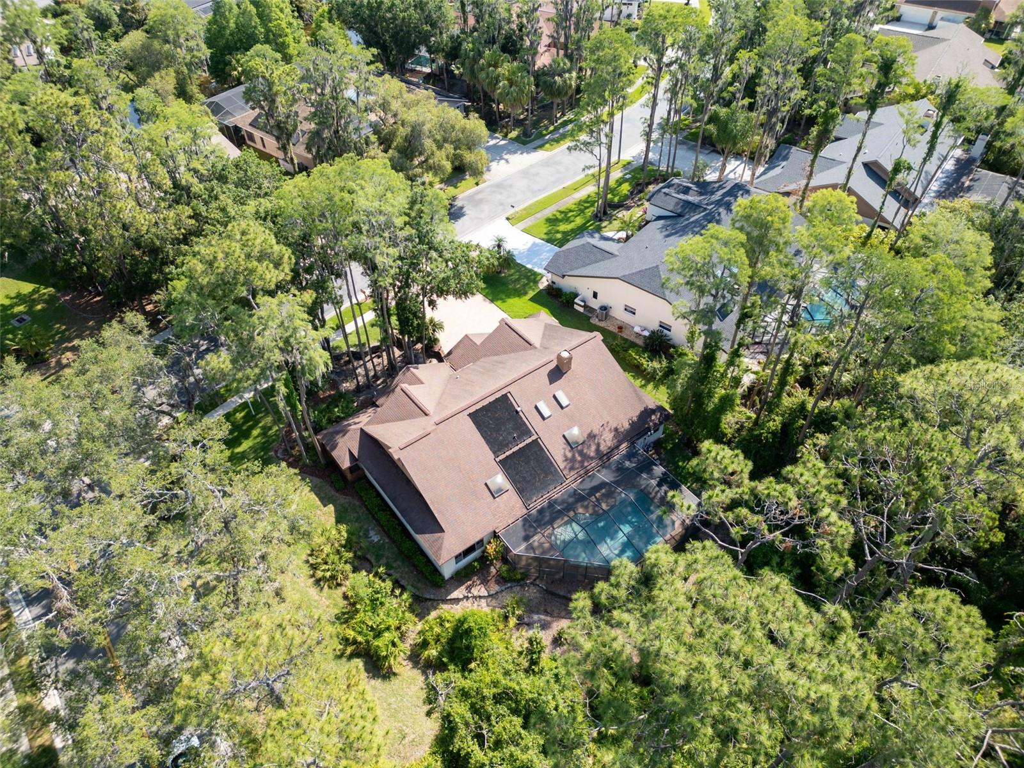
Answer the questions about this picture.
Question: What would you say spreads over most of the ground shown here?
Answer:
trees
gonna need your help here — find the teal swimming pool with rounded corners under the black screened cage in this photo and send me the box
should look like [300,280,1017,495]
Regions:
[501,458,697,582]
